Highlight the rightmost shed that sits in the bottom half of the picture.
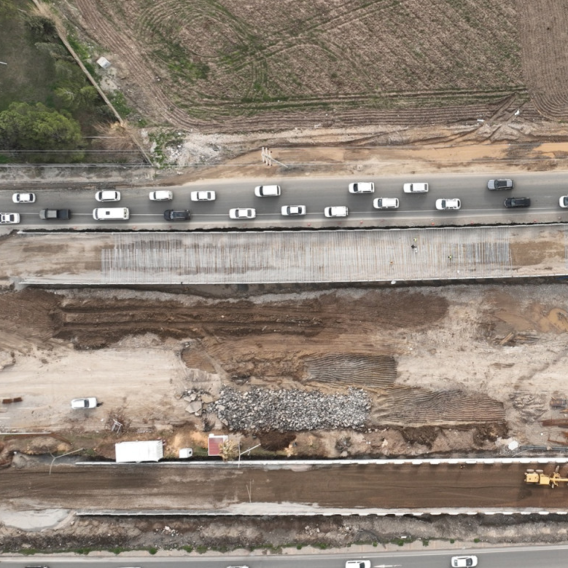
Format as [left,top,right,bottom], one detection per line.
[208,434,231,455]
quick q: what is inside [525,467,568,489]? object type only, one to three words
work vehicle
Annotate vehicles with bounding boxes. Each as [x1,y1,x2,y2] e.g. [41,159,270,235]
[230,207,257,220]
[255,184,281,197]
[403,181,428,192]
[504,196,530,208]
[93,206,130,220]
[349,181,374,194]
[345,559,371,568]
[324,206,348,217]
[41,207,73,220]
[150,189,174,201]
[451,554,478,568]
[559,196,568,207]
[487,178,513,190]
[97,190,123,201]
[436,197,461,209]
[0,212,22,223]
[374,198,400,209]
[525,467,568,489]
[14,191,38,203]
[69,397,105,410]
[191,189,217,201]
[281,205,306,216]
[164,207,191,220]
